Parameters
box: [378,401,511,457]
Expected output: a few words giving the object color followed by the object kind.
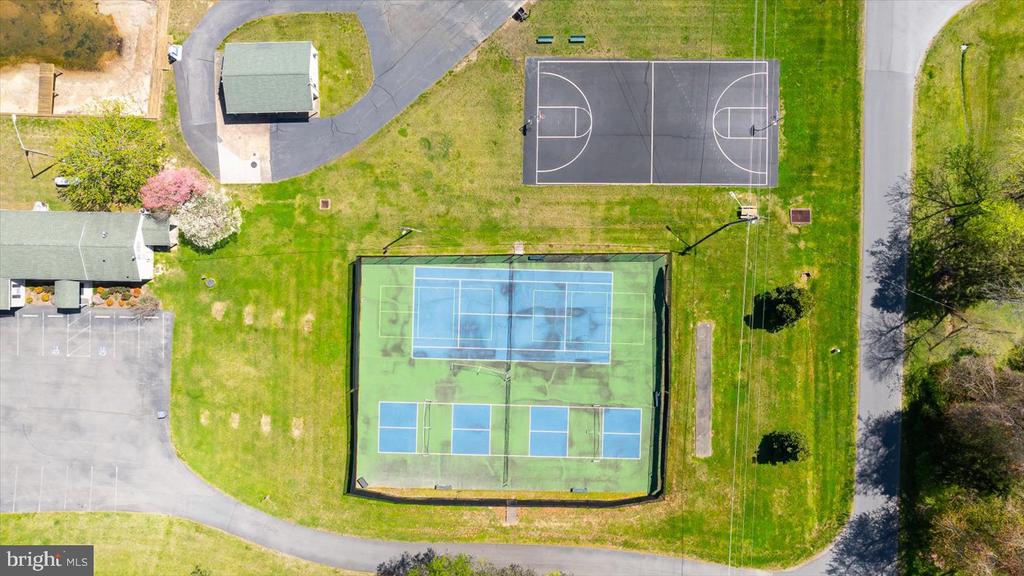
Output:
blue sports court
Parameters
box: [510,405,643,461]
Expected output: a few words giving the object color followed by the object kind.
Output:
blue sports court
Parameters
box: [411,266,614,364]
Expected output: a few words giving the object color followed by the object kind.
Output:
blue tennis court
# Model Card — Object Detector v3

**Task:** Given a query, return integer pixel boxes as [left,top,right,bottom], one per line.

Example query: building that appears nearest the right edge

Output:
[222,42,323,117]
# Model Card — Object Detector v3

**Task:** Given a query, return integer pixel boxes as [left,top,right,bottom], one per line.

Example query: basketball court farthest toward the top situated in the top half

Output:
[523,57,779,188]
